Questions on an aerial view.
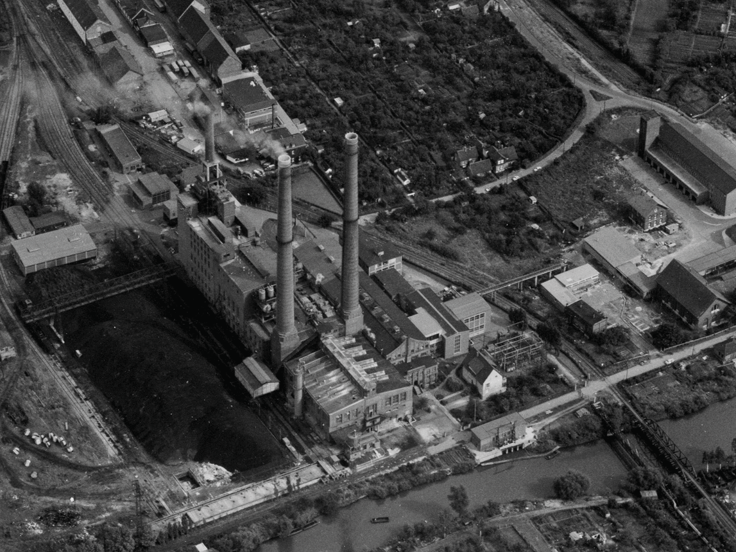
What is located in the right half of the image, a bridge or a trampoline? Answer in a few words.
bridge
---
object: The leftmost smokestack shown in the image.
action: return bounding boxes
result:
[198,108,225,187]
